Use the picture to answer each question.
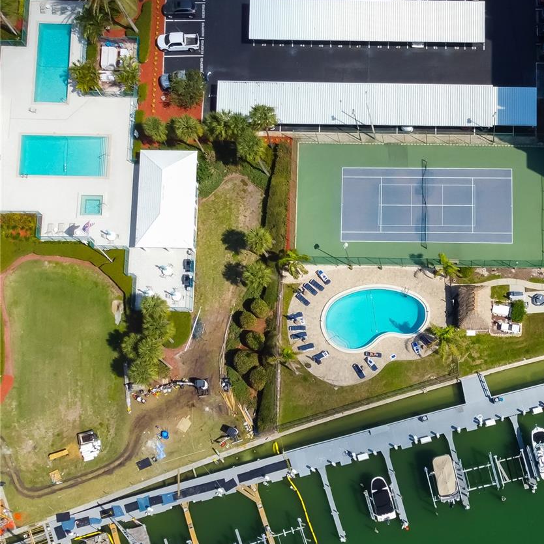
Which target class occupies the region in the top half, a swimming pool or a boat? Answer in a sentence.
The one visible in the top half is a swimming pool.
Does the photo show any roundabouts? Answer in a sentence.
No, the picture doesn't show any roundabout.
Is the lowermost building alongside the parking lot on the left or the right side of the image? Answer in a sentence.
The lowermost building alongside the parking lot sits on the left side.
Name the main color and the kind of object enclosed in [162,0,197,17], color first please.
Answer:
black car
